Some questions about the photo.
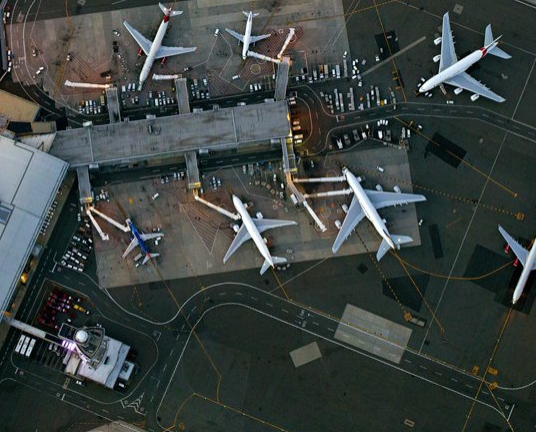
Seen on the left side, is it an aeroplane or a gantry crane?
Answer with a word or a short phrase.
aeroplane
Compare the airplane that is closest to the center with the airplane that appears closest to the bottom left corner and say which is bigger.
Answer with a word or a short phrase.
the airplane that is closest to the center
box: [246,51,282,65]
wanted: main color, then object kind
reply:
white jet bridge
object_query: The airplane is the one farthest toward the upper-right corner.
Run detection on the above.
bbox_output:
[419,16,512,104]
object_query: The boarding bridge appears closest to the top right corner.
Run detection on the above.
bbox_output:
[277,27,295,61]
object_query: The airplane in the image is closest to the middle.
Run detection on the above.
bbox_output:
[224,195,297,274]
